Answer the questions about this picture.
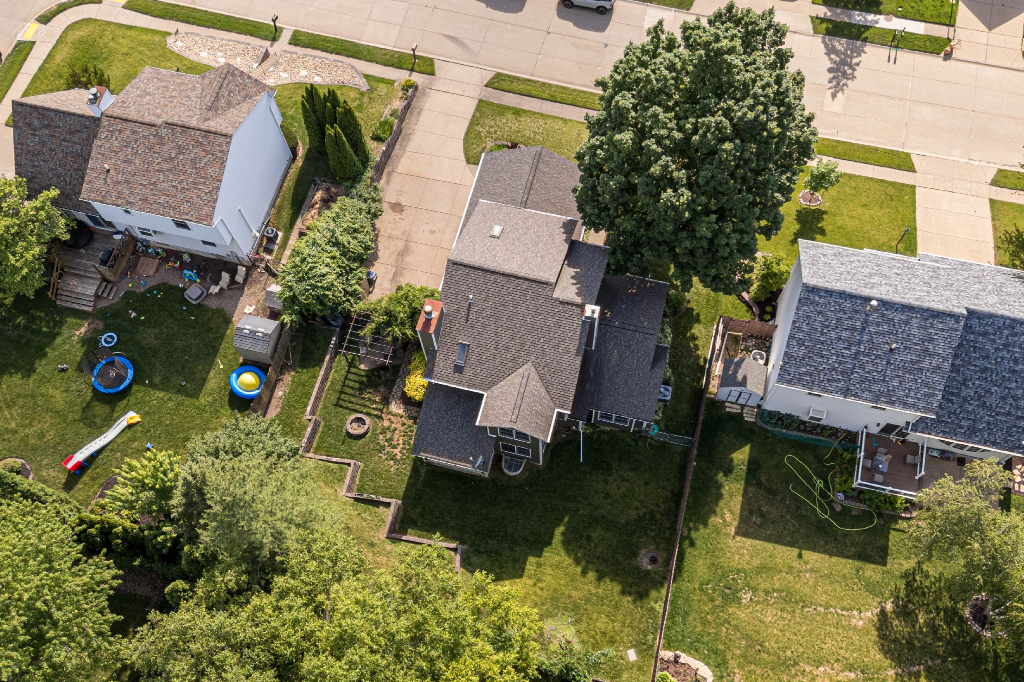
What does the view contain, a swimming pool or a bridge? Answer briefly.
swimming pool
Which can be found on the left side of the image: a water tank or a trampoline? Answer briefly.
trampoline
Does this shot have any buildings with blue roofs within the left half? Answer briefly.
No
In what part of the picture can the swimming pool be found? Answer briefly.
left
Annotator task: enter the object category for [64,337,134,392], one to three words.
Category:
trampoline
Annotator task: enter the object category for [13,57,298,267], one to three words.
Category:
house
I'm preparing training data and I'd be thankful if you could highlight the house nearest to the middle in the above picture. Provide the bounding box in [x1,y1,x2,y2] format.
[411,140,675,485]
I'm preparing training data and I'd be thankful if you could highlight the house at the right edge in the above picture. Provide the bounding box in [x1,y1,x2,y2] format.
[761,238,1024,469]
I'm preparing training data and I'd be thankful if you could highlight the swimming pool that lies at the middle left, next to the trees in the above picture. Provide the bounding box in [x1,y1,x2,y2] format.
[227,362,265,402]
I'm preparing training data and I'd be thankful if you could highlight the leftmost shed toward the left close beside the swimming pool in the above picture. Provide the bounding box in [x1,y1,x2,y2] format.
[231,313,280,362]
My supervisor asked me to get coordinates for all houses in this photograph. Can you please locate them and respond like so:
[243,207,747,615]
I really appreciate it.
[411,140,675,485]
[761,238,1024,469]
[13,57,298,267]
